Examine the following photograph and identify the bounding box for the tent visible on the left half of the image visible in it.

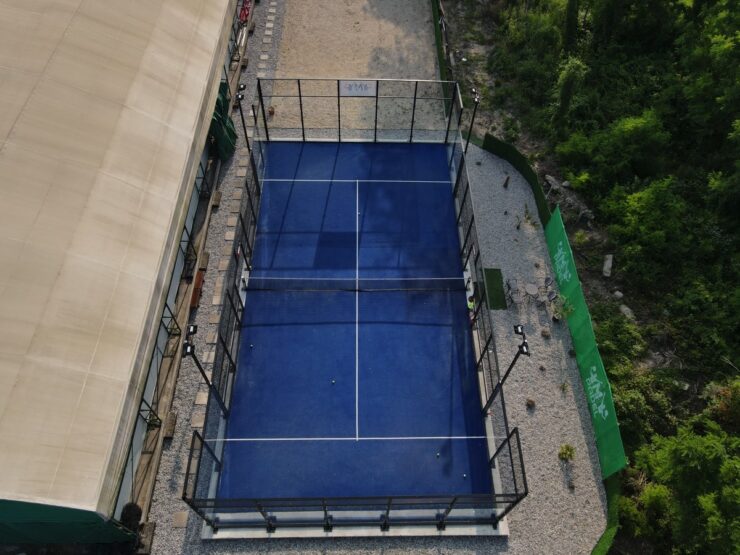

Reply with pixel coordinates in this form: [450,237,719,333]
[0,0,247,546]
